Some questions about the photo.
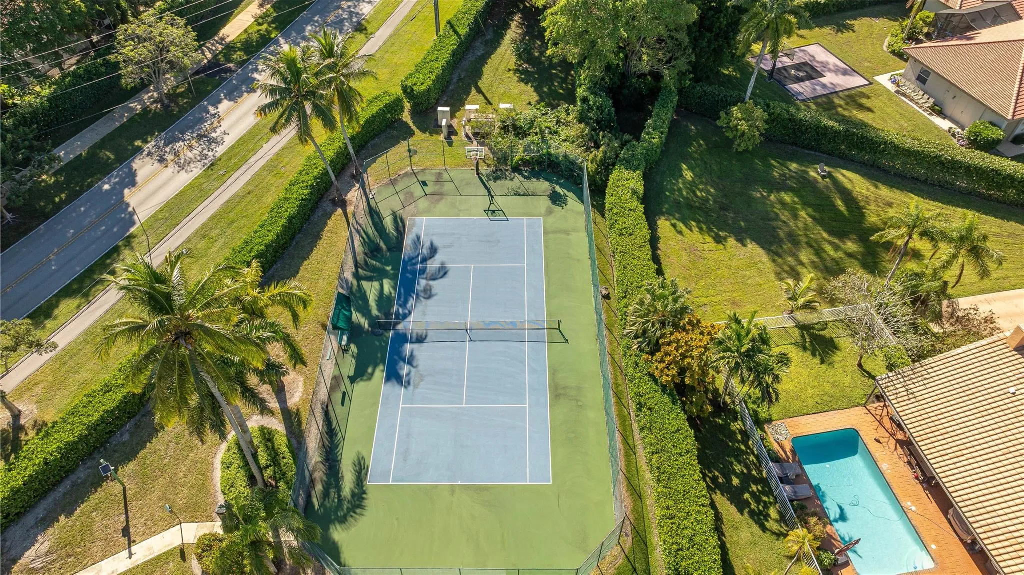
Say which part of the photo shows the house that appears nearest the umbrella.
bottom right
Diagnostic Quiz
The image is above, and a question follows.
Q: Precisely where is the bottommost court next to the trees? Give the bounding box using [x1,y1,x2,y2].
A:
[303,168,615,575]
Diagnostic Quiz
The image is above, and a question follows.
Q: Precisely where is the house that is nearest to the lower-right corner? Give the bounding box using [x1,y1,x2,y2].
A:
[866,305,1024,575]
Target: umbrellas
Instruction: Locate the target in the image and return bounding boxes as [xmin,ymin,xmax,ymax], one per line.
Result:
[835,540,860,562]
